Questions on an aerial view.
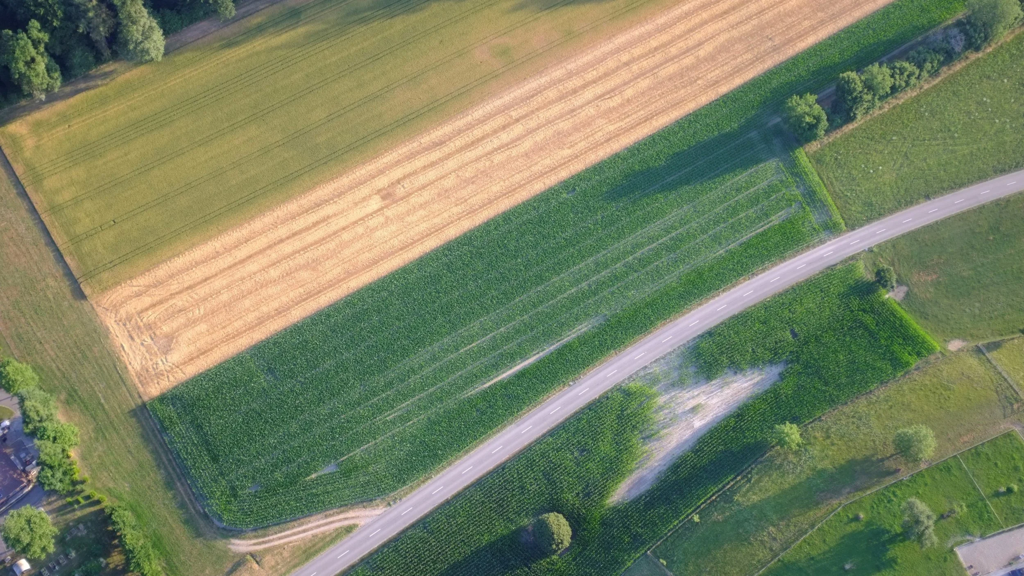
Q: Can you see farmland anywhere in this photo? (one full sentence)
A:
Yes, farmland shows up in the scene.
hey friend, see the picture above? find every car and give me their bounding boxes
[0,415,11,428]
[0,426,9,438]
